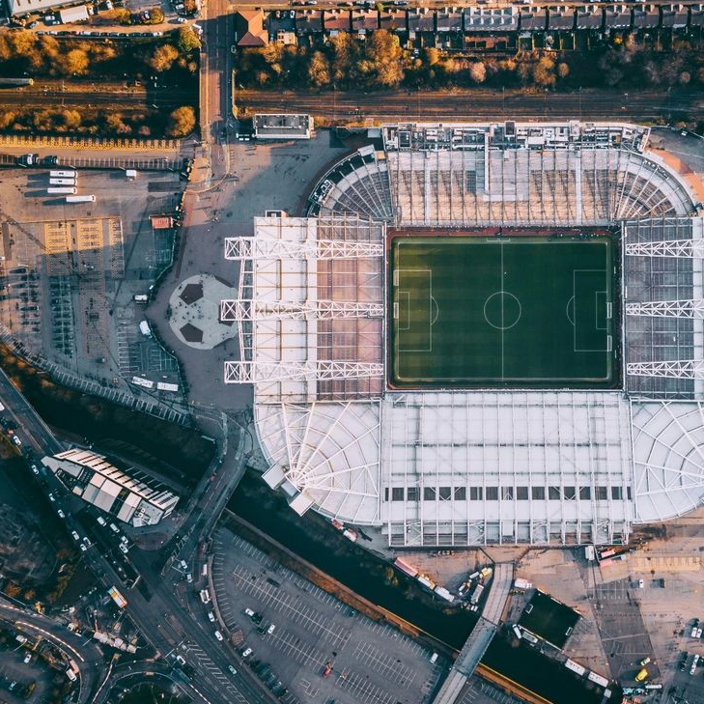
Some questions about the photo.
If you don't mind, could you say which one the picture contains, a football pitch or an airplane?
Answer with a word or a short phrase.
football pitch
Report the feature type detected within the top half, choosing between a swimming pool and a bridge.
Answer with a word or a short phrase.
bridge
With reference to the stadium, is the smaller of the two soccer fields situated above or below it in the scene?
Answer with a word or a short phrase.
below it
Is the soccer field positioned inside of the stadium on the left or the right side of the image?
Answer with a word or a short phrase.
right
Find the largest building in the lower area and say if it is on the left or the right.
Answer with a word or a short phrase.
left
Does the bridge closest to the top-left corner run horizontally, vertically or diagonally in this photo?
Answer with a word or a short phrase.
vertically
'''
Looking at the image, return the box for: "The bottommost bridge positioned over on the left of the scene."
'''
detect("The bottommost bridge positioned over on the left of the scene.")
[180,448,257,544]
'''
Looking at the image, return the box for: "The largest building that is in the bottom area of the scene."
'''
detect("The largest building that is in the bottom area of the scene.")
[41,447,182,528]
